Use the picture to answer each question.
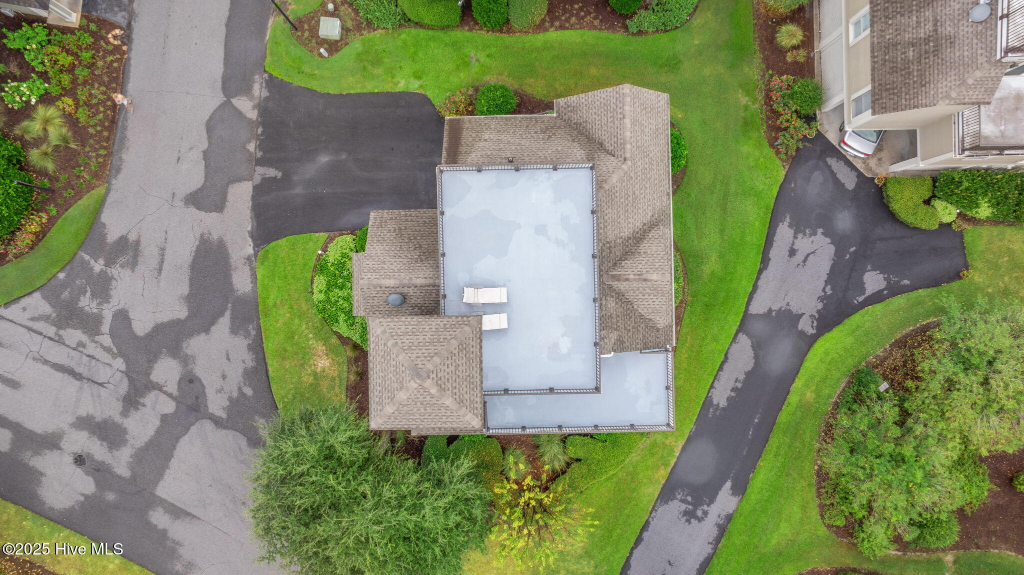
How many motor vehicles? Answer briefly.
1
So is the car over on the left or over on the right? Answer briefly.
right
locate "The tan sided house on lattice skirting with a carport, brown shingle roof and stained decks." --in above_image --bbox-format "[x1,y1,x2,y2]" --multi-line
[814,0,1024,174]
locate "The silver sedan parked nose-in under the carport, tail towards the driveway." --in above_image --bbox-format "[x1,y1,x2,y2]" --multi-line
[839,130,887,161]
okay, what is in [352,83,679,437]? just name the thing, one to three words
house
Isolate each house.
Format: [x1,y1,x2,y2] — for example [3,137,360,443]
[814,0,1024,174]
[0,0,81,26]
[352,83,679,437]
